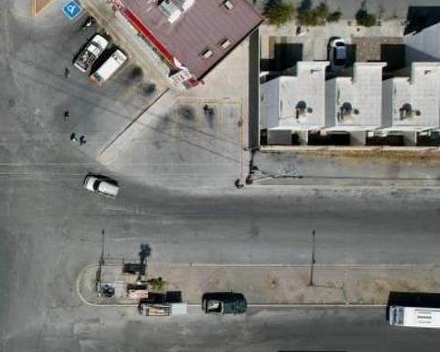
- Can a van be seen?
Yes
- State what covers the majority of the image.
paved ground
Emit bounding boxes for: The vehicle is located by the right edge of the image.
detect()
[391,303,440,329]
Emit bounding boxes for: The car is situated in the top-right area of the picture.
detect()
[328,37,347,67]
